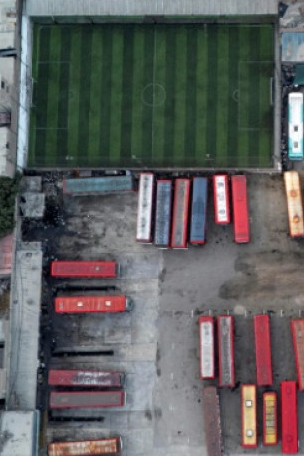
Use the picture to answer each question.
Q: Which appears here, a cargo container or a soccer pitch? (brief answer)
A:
soccer pitch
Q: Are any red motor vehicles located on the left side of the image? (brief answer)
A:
Yes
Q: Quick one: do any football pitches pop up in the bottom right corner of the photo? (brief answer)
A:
No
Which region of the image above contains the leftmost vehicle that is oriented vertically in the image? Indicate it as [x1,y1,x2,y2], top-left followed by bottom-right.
[135,172,156,247]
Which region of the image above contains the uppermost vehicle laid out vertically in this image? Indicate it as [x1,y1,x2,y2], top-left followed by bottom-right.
[287,92,304,166]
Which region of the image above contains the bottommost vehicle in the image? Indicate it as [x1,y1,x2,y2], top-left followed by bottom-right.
[48,437,125,456]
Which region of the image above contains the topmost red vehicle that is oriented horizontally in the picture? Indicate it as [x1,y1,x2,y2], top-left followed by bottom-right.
[51,260,121,277]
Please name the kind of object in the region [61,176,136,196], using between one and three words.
bus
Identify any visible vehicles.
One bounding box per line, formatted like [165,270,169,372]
[199,315,216,380]
[48,437,125,456]
[171,179,191,252]
[154,179,173,251]
[241,384,258,449]
[48,370,126,386]
[51,260,121,277]
[254,314,272,387]
[50,389,128,407]
[61,176,136,196]
[214,175,231,228]
[190,177,209,247]
[287,92,304,166]
[232,175,251,247]
[284,171,304,241]
[218,315,235,387]
[135,172,156,247]
[55,296,131,312]
[291,319,304,392]
[281,380,298,455]
[262,391,278,446]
